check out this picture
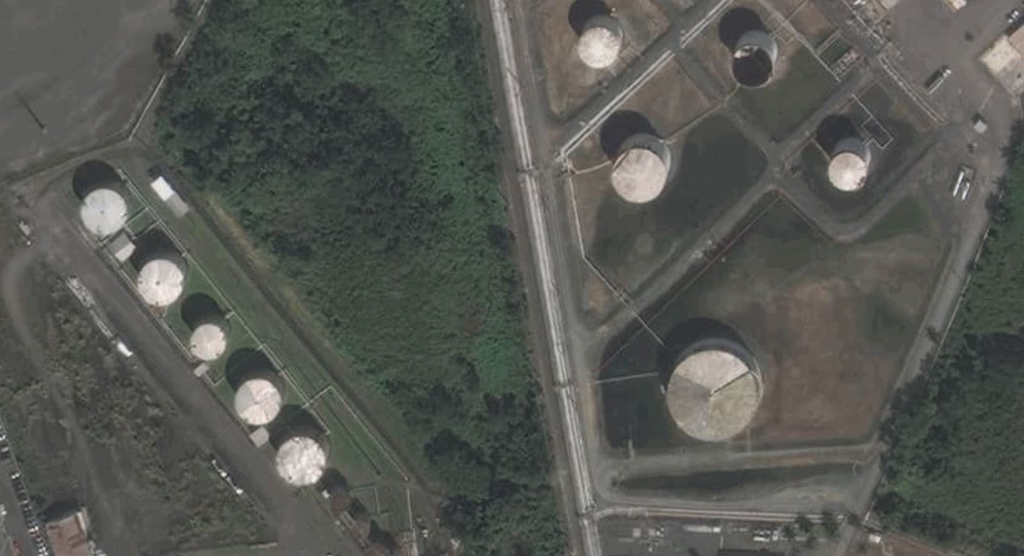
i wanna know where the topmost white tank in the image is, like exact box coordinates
[578,12,624,68]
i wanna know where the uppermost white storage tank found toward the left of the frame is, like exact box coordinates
[79,176,132,237]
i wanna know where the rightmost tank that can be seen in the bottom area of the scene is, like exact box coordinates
[668,336,764,443]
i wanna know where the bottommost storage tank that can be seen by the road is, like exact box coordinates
[276,423,330,488]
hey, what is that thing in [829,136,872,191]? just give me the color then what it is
white storage tank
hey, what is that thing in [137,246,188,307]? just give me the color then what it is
white storage tank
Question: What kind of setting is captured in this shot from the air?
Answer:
industrial area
